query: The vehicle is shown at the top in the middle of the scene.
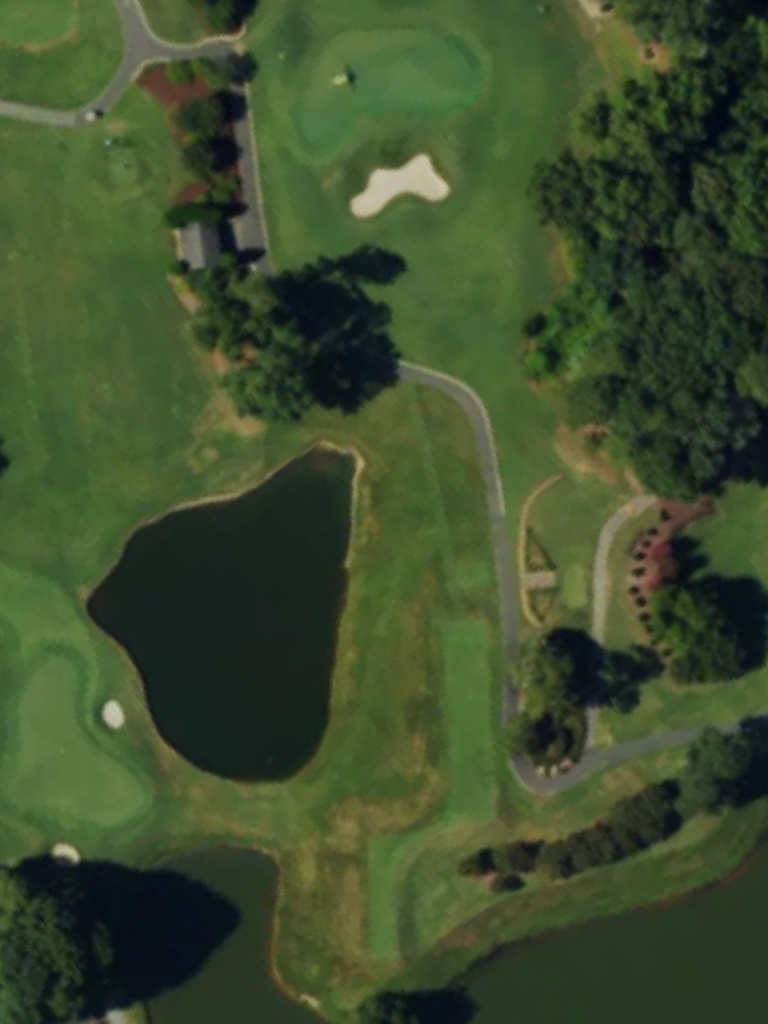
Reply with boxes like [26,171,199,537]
[333,63,352,90]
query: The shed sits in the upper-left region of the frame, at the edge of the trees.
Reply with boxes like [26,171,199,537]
[179,220,221,270]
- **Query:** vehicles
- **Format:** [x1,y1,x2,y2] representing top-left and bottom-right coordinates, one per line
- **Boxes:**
[82,109,98,122]
[333,63,352,90]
